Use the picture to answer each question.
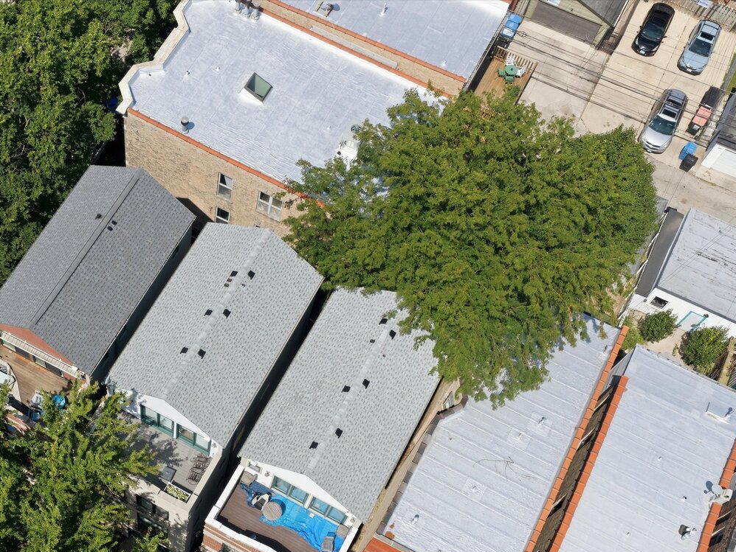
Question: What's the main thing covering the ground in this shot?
buildings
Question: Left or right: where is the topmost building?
right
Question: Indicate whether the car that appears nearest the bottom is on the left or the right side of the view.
right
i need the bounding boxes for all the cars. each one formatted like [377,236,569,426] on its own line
[634,0,681,53]
[646,76,701,149]
[682,6,731,70]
